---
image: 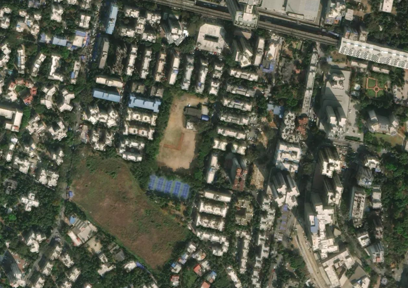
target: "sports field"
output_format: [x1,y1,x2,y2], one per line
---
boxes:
[158,98,195,168]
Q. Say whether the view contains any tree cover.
Yes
